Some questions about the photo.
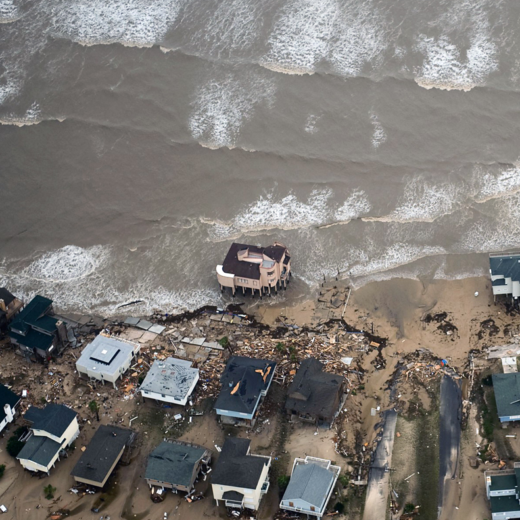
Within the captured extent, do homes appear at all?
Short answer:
Yes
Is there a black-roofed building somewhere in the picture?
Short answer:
Yes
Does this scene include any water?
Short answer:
Yes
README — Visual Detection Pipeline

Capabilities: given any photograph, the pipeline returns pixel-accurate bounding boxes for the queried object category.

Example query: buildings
[216,243,292,299]
[145,439,215,497]
[6,294,78,364]
[0,385,21,435]
[489,252,520,309]
[212,434,271,517]
[492,372,520,430]
[76,333,141,388]
[214,354,275,430]
[286,360,349,430]
[16,403,77,481]
[70,422,138,494]
[280,456,342,520]
[485,461,520,520]
[140,357,199,411]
